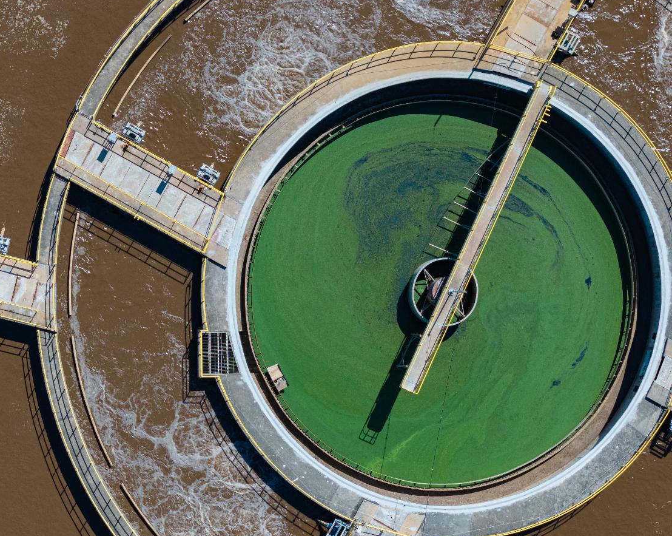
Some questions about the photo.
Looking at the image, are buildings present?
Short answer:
No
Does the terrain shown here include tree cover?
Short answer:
No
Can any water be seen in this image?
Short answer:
Yes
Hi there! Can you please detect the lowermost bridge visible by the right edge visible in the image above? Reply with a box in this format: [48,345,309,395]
[645,340,672,413]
